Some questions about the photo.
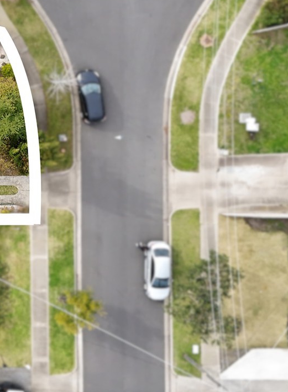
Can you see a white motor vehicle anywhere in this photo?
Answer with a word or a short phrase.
Yes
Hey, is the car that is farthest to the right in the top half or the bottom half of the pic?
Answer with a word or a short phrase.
bottom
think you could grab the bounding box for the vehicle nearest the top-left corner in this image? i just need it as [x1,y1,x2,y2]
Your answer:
[75,68,107,124]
